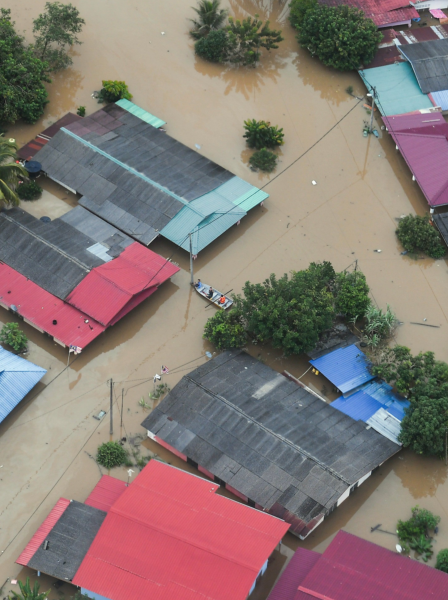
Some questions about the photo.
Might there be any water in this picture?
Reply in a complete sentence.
Yes, water can be seen from above here.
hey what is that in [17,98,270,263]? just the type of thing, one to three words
house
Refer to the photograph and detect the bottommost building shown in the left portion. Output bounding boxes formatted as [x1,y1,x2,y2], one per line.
[15,459,291,600]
